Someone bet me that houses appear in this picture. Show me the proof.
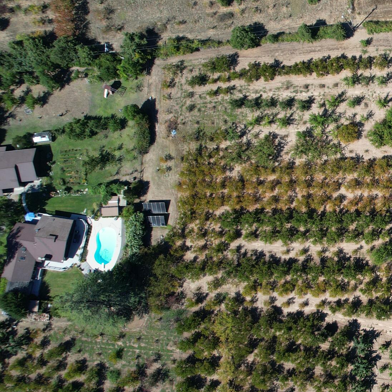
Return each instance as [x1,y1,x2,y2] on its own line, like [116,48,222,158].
[0,148,44,190]
[1,215,75,293]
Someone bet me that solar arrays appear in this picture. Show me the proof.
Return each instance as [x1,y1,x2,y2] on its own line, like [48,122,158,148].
[141,202,169,213]
[147,216,168,226]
